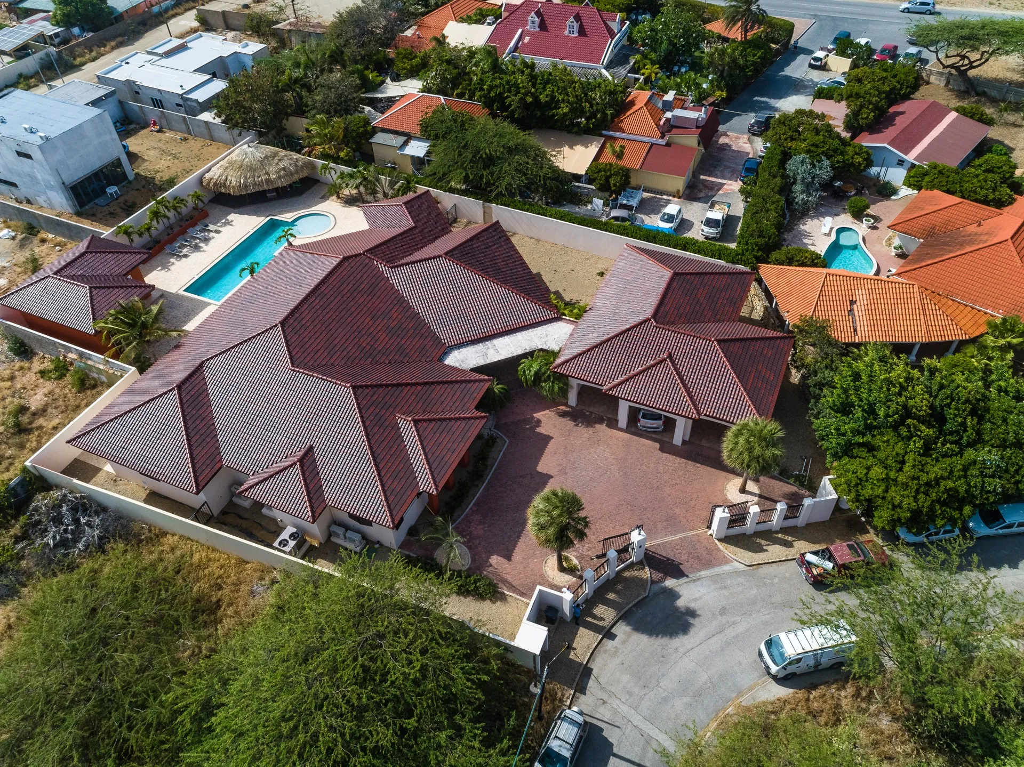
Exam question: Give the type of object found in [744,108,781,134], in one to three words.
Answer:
car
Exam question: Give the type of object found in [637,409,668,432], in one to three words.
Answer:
car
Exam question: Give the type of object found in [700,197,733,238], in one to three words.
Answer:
truck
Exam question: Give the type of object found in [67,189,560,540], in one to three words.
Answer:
house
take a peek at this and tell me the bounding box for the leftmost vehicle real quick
[528,708,589,767]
